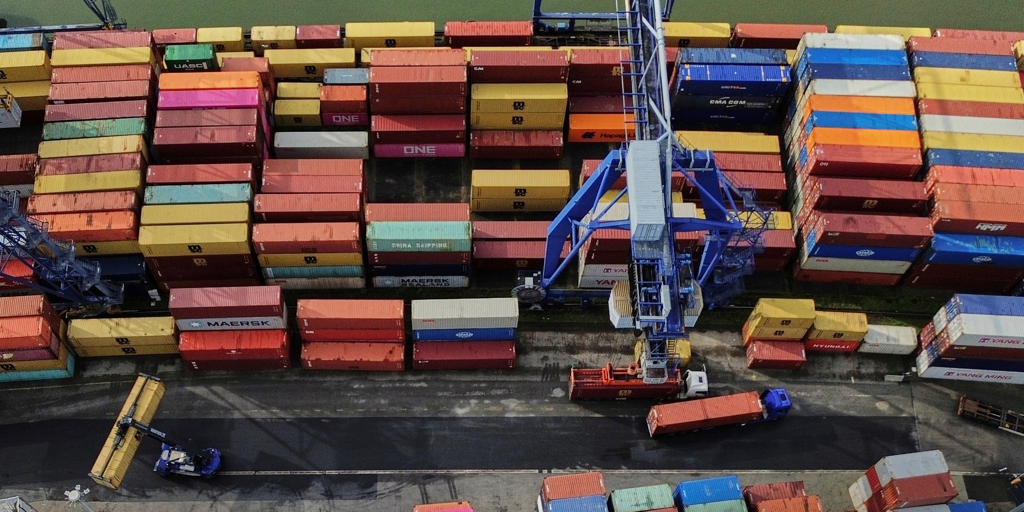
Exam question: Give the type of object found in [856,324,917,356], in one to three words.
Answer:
shipping container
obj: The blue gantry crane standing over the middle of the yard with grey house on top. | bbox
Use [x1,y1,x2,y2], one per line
[508,0,785,398]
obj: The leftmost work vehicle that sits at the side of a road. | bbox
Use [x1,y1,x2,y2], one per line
[119,409,224,477]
